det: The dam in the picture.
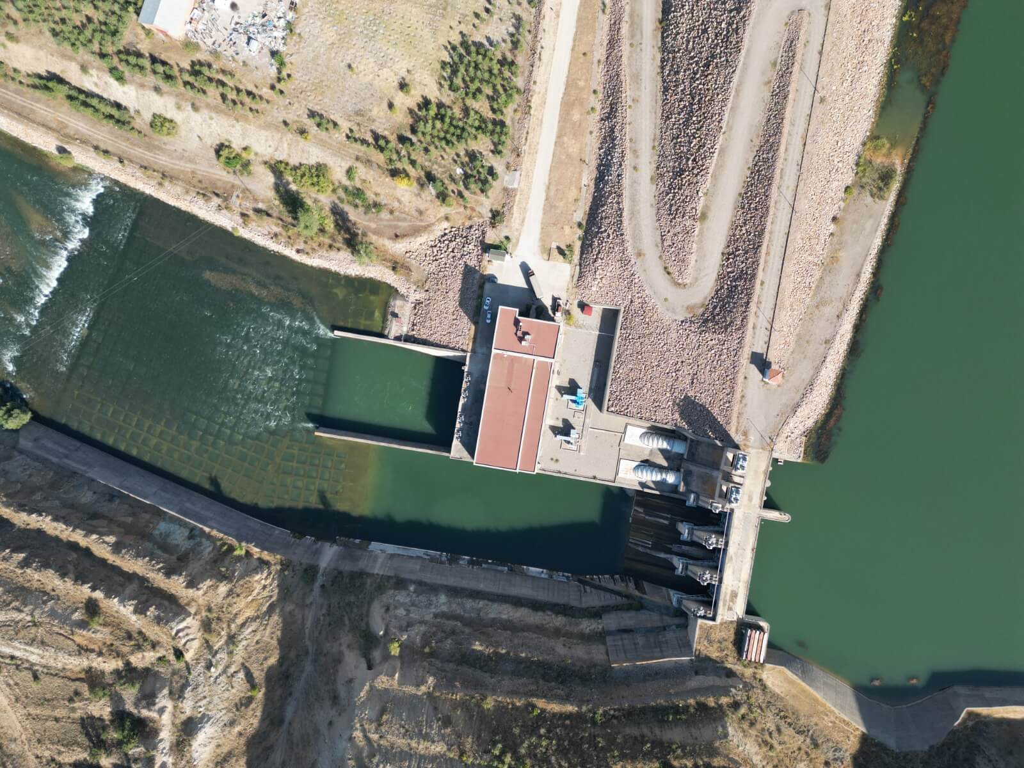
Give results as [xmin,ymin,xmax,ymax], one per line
[577,0,909,461]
